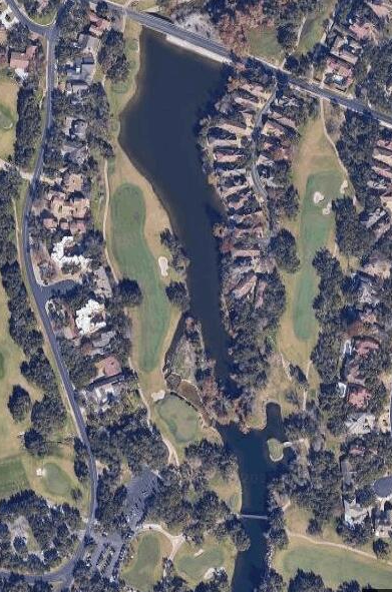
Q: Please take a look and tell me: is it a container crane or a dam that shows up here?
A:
dam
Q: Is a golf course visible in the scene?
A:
Yes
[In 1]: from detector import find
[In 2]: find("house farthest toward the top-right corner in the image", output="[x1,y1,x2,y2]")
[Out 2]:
[370,0,392,23]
